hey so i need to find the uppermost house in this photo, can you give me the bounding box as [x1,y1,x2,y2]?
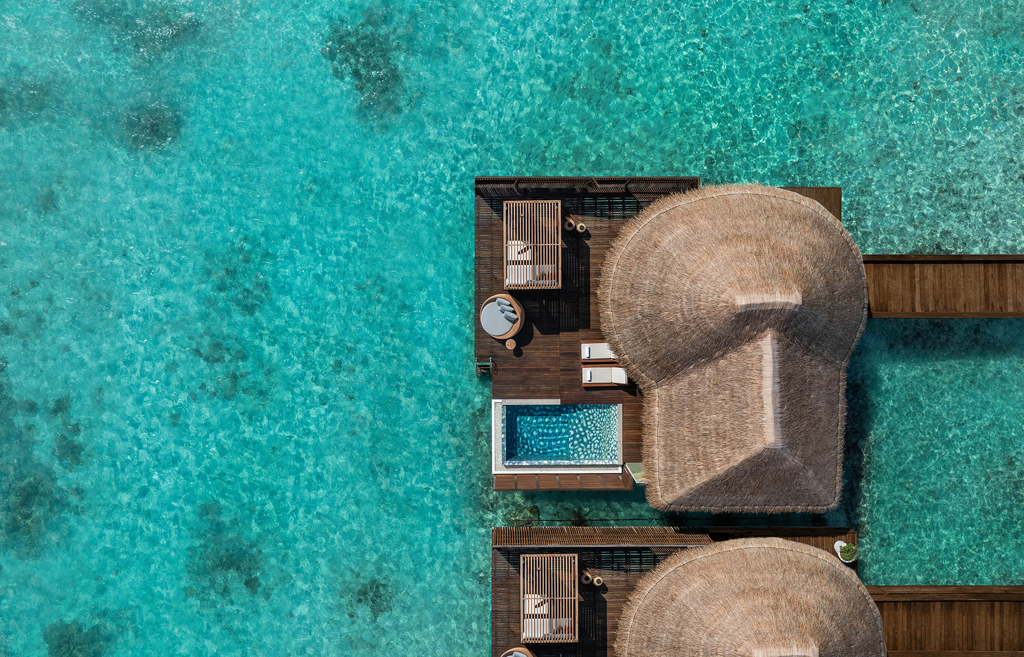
[595,181,871,518]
